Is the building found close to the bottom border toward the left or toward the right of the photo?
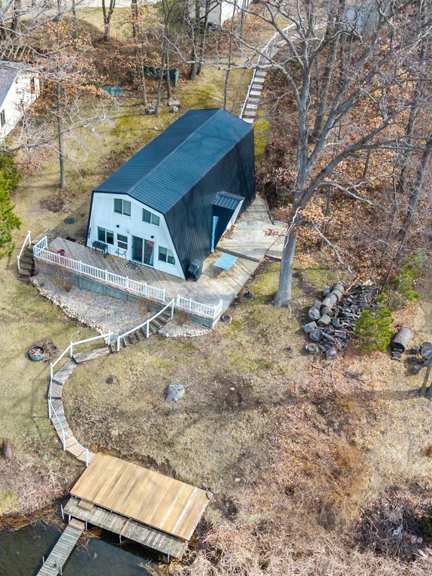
left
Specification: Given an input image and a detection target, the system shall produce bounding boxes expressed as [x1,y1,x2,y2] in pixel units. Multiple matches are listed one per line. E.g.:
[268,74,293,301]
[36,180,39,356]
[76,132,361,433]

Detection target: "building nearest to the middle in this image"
[81,104,266,282]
